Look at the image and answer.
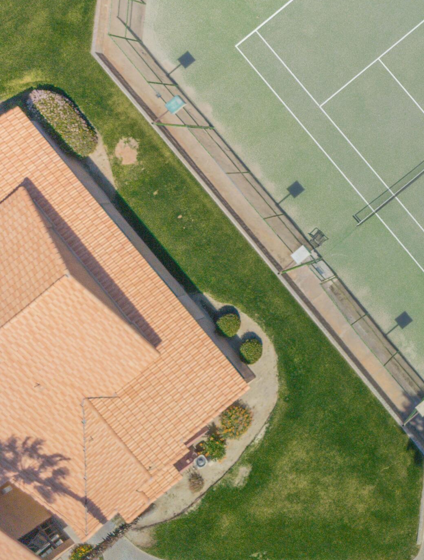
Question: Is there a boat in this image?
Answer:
No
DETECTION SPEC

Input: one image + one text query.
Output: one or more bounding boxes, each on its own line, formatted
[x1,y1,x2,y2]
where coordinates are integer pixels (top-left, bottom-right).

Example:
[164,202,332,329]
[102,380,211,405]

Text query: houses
[0,106,257,543]
[0,523,73,560]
